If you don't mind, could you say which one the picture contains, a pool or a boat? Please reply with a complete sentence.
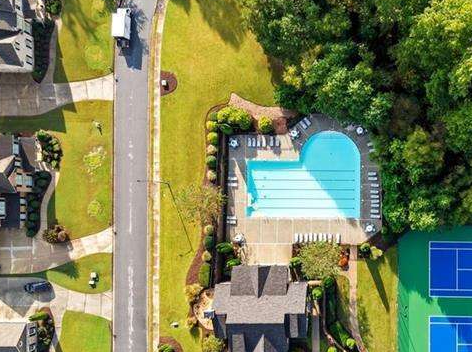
This aerial view contains a pool.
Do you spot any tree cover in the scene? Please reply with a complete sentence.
Yes, tree cover shows up in the scene.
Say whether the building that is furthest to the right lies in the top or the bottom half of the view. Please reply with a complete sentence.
Seen from above, the building that is furthest to the right lies in the bottom half of the view.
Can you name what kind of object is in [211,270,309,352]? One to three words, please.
building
